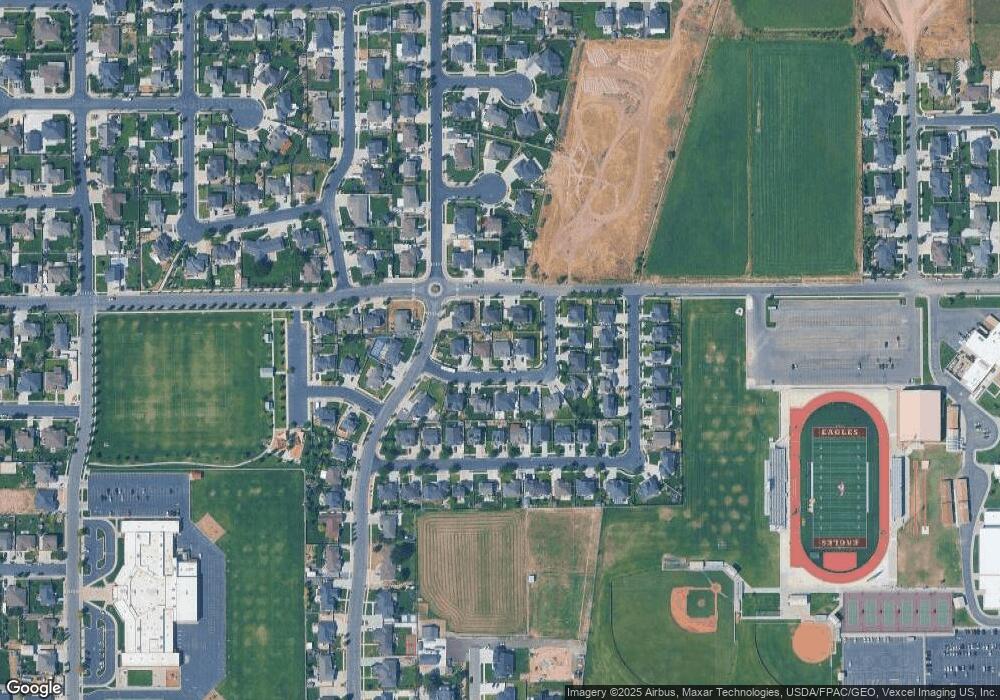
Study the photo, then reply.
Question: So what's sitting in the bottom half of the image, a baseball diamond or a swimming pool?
baseball diamond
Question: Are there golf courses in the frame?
No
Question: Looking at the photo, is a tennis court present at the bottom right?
Yes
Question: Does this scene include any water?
No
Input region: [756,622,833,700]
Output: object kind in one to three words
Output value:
baseball field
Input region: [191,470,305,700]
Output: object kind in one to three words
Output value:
sports field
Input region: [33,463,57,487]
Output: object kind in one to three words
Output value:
house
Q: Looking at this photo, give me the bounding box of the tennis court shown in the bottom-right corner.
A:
[844,593,952,632]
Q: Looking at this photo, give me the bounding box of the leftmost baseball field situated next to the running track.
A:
[611,571,734,700]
